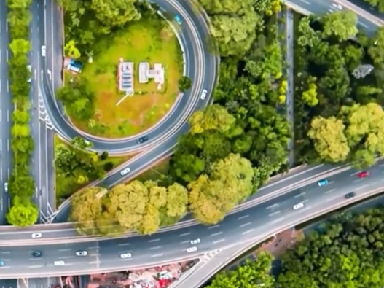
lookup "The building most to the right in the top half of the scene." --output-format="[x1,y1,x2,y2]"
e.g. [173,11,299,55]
[137,62,164,90]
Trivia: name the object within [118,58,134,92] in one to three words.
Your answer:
building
